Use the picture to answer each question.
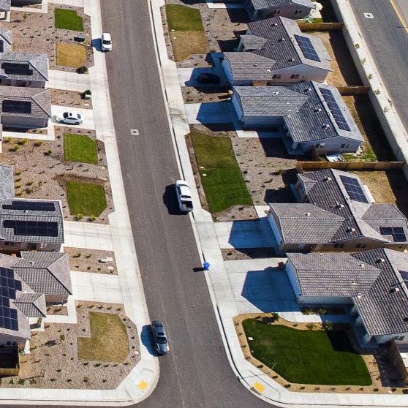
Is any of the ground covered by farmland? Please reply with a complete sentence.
No, no farmland is visible.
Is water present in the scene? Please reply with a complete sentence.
No, the picture contains no water.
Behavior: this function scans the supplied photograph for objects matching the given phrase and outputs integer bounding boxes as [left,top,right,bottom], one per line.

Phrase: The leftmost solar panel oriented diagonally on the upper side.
[295,34,320,62]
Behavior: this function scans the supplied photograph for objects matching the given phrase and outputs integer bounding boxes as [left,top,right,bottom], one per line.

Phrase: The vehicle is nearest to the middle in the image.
[174,179,195,209]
